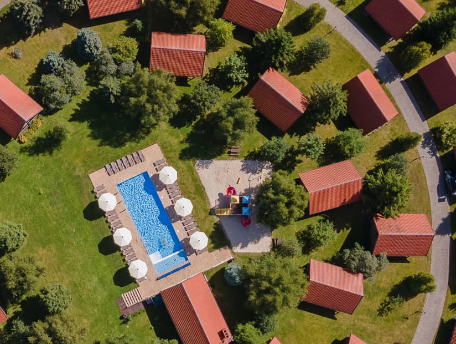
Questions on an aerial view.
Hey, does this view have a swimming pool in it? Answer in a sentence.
Yes, I can see a swimming pool in this picture.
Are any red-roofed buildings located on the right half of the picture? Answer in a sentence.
Yes, a red-roofed building is visible on the right half of the picture.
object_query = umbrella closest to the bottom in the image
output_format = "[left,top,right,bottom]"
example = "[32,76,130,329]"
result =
[129,260,147,279]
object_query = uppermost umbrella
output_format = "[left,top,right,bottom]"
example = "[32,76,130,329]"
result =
[159,165,178,185]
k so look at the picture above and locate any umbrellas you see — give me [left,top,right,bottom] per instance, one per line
[159,165,178,185]
[98,192,116,211]
[175,197,192,216]
[129,260,147,279]
[189,231,208,250]
[113,228,132,246]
